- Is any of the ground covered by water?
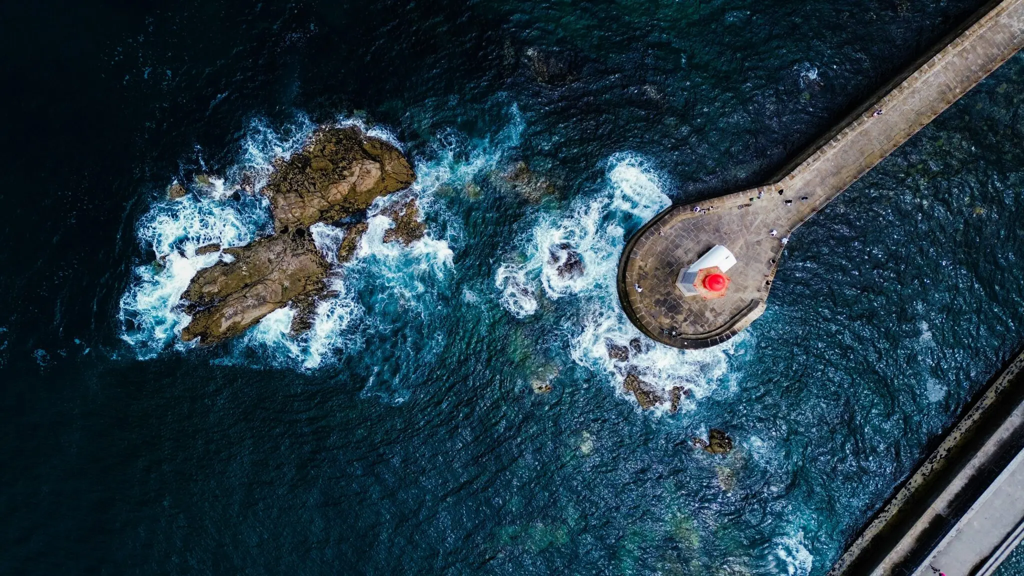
Yes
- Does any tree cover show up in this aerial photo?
No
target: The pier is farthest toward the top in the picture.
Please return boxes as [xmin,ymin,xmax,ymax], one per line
[617,0,1024,352]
